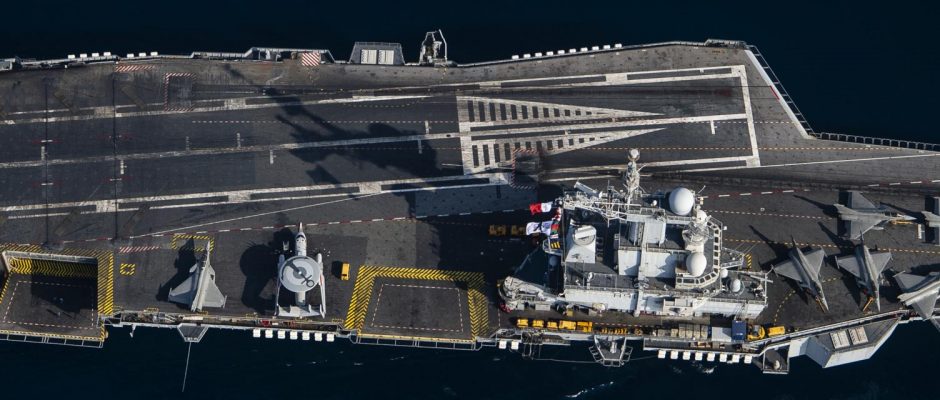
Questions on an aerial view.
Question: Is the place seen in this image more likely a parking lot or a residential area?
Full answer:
This looks like a parking lot.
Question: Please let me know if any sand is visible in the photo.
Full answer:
No, the picture contains no sand.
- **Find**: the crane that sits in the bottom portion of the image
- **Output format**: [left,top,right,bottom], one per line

[493,276,563,318]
